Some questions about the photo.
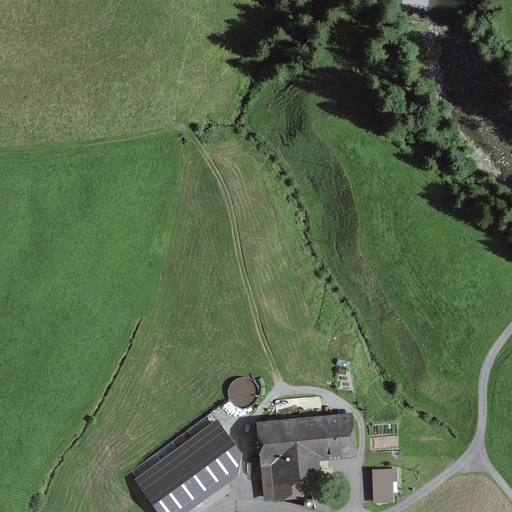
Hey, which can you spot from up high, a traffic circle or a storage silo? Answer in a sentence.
This aerial view contains a storage silo.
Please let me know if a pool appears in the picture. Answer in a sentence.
No, there's no pool here.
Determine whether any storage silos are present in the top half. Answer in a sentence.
No, I can find no storage silo in the top half.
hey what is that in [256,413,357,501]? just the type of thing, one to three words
house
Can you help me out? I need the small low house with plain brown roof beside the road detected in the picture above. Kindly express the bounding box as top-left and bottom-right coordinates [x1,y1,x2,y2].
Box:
[372,467,401,506]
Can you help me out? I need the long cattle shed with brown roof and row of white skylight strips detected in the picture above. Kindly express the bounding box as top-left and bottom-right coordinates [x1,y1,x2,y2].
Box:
[136,421,242,512]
